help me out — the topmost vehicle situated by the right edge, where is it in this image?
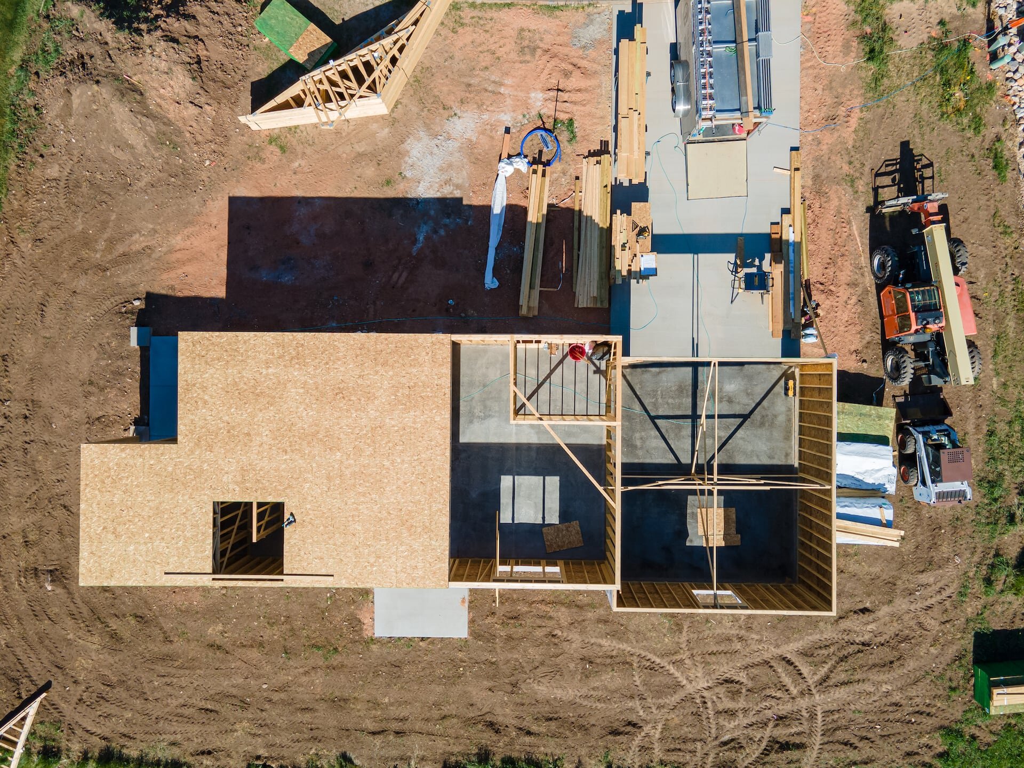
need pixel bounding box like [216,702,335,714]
[863,167,983,392]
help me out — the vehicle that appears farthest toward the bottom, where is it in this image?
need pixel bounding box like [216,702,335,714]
[891,395,974,505]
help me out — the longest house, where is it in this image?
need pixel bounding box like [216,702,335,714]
[79,331,838,616]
